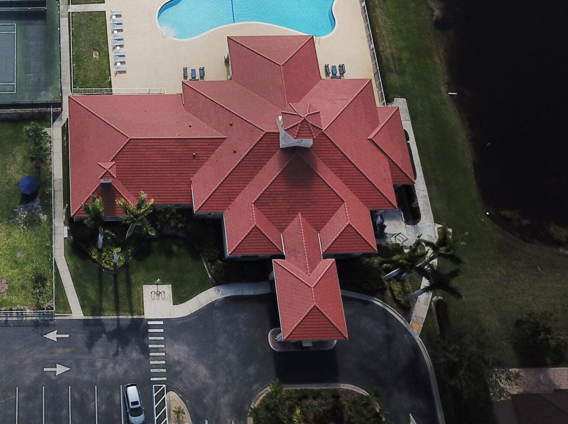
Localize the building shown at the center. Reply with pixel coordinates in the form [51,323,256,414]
[68,34,416,343]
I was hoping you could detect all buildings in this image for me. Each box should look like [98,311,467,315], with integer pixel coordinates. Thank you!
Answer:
[488,375,568,424]
[68,34,416,343]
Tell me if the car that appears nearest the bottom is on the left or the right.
left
